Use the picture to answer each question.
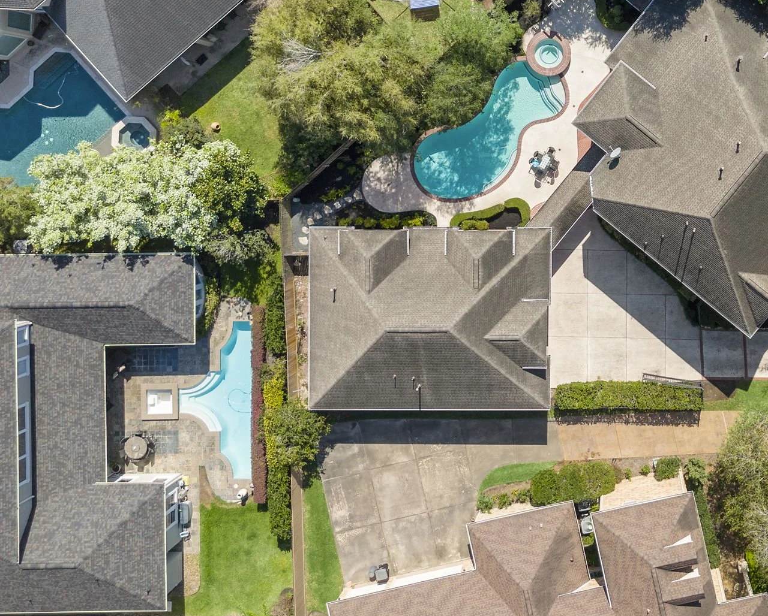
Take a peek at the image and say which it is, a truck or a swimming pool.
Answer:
swimming pool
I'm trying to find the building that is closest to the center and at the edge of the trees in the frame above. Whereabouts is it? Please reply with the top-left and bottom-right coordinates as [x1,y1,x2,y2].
[307,224,553,411]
